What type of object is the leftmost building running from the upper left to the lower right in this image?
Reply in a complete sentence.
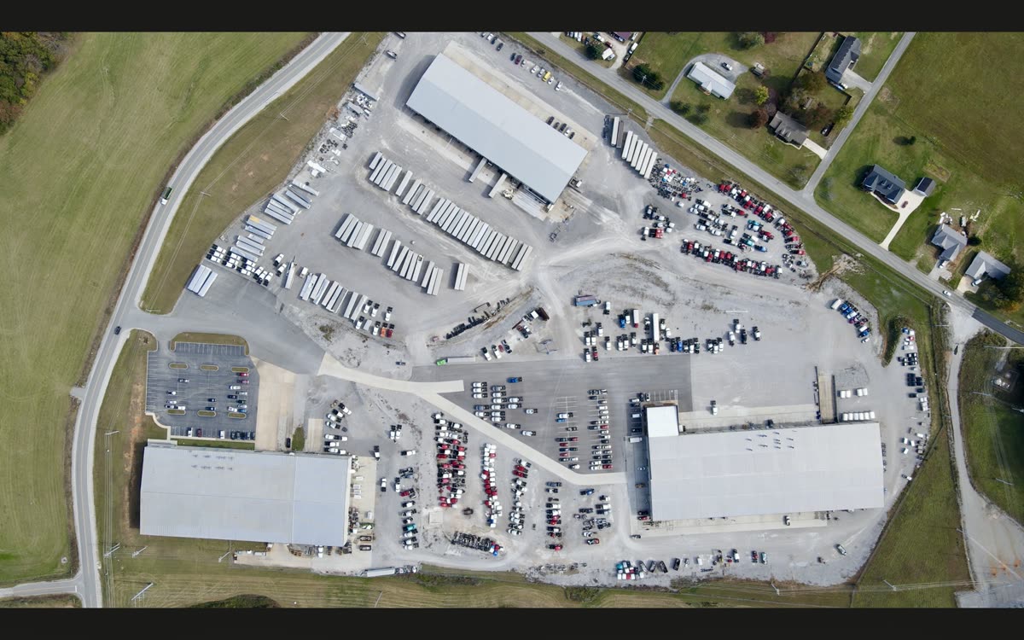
The leftmost building running from the upper left to the lower right can be classified as a warehouse.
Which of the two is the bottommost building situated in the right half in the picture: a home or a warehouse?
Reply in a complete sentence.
Specifically, the bottommost building situated in the right half is a warehouse.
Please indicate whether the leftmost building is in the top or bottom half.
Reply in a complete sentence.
It is in the bottom half that the leftmost building appears.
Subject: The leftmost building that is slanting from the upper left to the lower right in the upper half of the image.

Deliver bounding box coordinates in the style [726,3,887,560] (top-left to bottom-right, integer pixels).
[406,53,588,204]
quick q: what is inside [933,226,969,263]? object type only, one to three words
house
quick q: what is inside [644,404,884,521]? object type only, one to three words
warehouse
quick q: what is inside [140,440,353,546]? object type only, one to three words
building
